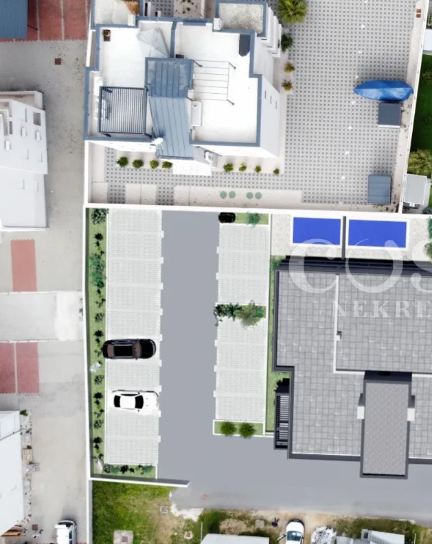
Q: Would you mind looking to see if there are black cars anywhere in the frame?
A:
Yes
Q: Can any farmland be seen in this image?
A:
No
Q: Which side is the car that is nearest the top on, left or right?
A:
left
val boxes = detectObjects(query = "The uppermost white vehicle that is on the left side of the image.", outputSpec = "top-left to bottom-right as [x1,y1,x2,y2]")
[111,389,162,414]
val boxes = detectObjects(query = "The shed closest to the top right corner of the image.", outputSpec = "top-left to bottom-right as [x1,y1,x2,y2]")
[378,103,401,131]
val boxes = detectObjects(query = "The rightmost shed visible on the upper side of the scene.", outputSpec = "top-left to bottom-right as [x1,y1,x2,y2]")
[404,176,427,205]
